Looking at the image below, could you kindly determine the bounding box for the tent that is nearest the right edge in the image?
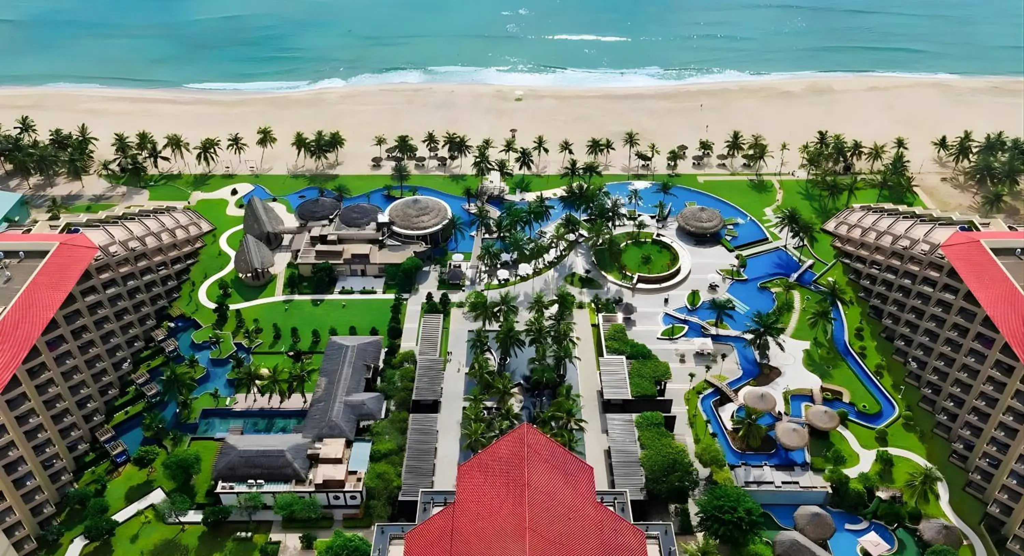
[853,531,891,556]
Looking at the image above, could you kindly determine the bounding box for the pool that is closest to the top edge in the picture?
[243,181,765,251]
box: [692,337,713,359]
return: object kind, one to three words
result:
tent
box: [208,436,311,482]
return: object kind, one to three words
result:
building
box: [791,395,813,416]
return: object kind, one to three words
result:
swimming pool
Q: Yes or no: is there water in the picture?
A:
Yes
